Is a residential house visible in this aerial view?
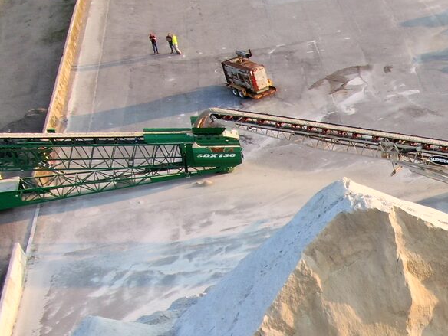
No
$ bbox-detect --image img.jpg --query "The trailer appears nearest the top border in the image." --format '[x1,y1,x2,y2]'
[216,41,273,93]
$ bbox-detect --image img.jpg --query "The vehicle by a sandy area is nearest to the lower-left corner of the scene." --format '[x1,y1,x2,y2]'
[0,116,249,222]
